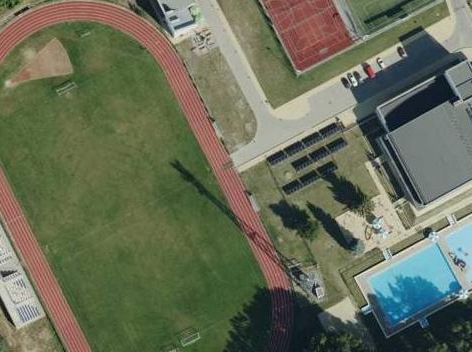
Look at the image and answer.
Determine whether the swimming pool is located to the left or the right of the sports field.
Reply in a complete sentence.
Compared with the sports field, the swimming pool is located further to the right.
